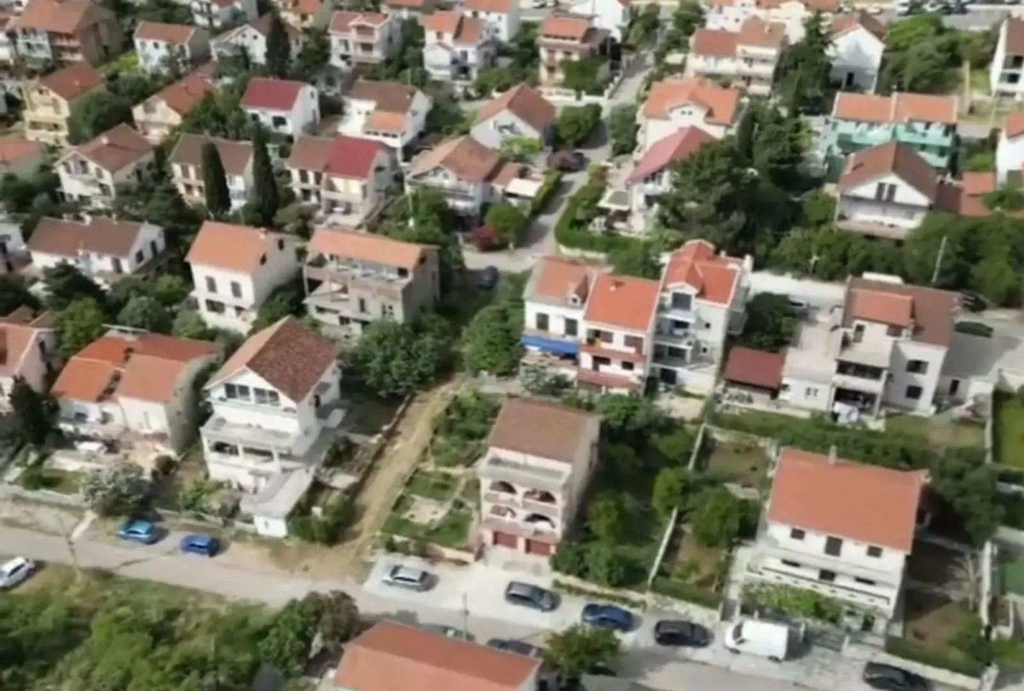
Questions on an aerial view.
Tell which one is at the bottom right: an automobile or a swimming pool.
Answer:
automobile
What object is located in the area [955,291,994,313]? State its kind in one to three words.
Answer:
car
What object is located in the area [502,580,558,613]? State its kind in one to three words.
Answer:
car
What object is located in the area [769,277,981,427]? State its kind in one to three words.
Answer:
house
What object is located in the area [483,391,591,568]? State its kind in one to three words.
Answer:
house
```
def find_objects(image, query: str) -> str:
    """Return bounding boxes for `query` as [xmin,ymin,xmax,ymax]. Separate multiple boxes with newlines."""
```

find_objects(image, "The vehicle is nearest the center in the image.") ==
[478,265,499,289]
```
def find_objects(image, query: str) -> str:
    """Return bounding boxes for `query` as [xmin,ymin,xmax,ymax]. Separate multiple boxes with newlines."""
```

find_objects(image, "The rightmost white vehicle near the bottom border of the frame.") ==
[722,617,792,658]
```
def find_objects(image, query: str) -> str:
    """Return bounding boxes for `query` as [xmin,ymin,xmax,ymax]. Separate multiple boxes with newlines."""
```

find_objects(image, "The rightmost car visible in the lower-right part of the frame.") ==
[863,662,924,691]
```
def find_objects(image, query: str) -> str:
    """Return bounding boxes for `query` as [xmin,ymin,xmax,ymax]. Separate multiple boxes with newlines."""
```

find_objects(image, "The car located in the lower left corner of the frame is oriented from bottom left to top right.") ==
[0,555,43,591]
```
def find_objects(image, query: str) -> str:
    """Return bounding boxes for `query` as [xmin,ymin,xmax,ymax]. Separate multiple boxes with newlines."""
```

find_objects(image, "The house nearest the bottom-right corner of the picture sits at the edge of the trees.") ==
[755,449,919,634]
